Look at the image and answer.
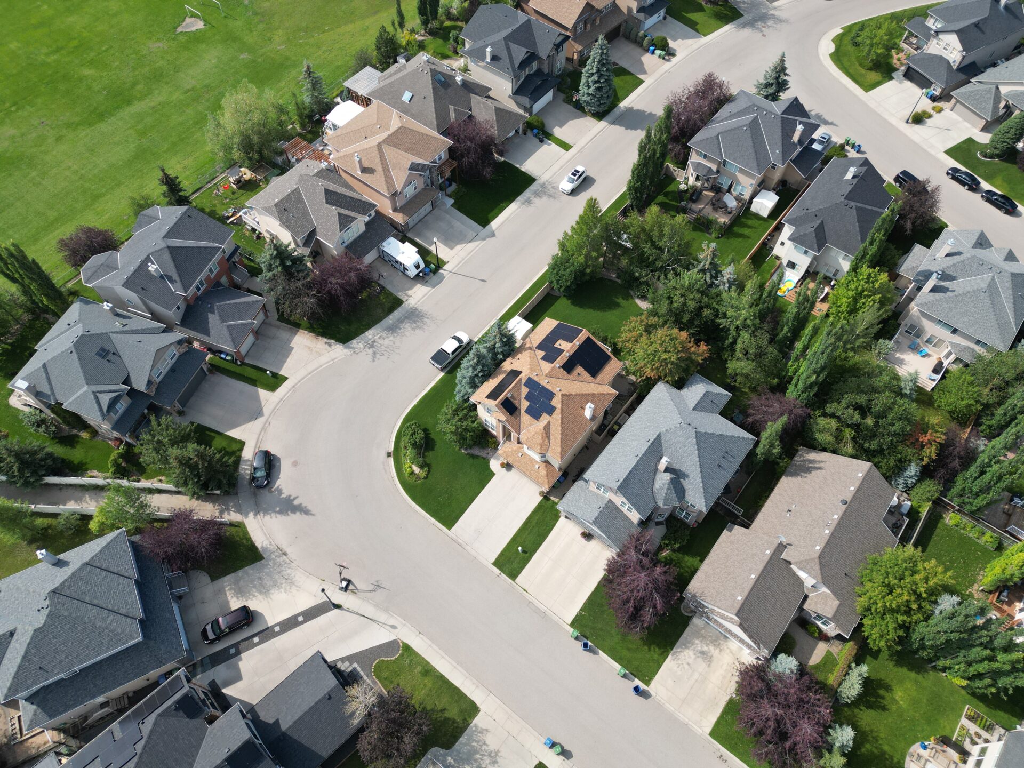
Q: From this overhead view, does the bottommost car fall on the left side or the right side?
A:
left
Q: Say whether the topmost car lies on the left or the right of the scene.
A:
right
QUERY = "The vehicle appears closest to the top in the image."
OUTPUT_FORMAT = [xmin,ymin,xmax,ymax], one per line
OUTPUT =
[811,126,837,150]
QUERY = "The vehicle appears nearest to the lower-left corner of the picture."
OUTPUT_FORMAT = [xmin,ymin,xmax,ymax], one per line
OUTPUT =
[200,609,253,649]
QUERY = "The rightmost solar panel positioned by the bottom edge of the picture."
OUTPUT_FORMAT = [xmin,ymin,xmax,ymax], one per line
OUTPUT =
[224,741,267,768]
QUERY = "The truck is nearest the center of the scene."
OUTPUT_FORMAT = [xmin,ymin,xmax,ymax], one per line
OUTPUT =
[427,332,472,371]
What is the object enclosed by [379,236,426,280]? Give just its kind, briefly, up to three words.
trailer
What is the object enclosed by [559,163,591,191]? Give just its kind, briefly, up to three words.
car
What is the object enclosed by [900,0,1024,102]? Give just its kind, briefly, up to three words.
house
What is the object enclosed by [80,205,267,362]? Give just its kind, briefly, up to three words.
house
